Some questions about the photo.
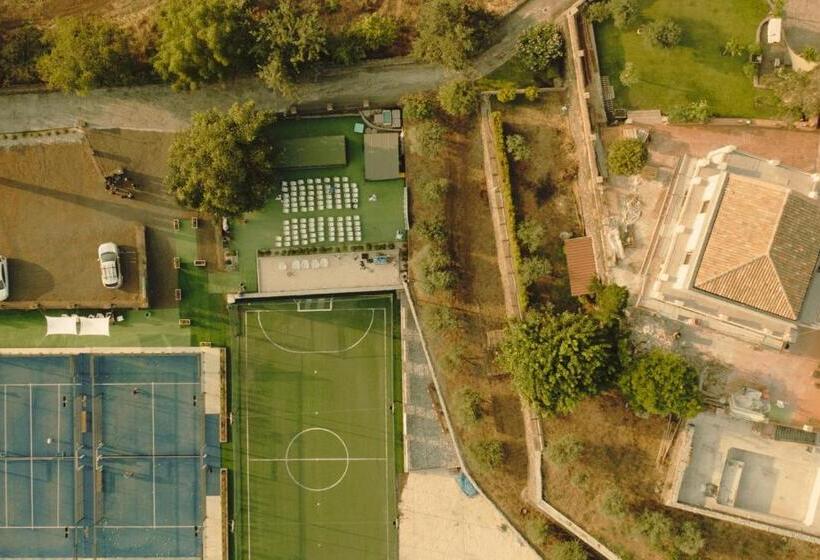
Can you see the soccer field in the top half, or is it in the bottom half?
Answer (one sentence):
You can find the soccer field in the bottom half.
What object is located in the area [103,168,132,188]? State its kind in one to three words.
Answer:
work vehicle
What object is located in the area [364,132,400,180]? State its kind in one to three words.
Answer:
shed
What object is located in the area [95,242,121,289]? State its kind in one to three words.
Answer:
car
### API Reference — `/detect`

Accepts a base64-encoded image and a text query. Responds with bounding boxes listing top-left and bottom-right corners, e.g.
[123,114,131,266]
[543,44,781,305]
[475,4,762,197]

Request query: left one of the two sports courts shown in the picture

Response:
[0,354,82,560]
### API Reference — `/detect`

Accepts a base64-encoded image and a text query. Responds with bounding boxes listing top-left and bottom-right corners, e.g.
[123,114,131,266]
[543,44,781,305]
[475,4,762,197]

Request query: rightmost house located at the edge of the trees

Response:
[639,143,820,361]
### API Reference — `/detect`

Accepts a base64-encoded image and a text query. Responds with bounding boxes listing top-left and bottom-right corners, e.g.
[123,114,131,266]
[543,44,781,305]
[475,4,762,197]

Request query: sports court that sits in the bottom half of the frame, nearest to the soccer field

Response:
[92,354,205,560]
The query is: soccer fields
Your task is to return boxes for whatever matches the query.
[230,292,396,560]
